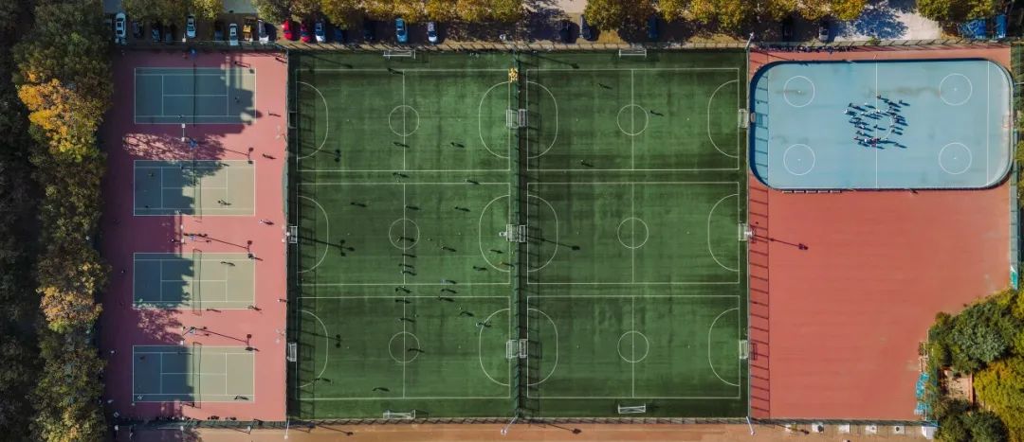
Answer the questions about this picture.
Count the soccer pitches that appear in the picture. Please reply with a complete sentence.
I count 6 soccer pitches.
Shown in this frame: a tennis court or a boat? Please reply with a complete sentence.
Looking from above, you can make out a tennis court.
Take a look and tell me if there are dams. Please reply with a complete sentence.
No, the picture doesn't show any dam.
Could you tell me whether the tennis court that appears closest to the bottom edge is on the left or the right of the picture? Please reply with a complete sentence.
The tennis court that appears closest to the bottom edge appears in the left half of the scene.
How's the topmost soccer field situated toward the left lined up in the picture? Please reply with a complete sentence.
Seen from above, the topmost soccer field situated toward the left lies from left to right.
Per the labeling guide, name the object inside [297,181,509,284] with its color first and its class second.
green soccer field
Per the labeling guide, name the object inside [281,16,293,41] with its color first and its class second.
red vehicle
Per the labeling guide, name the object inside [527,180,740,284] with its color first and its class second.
green soccer field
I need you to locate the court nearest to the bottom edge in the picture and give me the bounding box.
[134,341,255,409]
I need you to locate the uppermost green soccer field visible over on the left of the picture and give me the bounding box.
[297,68,509,171]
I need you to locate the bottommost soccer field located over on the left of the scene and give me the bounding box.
[297,295,509,400]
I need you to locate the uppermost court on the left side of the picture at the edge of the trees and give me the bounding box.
[134,61,255,129]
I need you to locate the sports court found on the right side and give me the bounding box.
[752,58,1017,192]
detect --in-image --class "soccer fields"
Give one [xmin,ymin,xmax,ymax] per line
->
[527,67,740,170]
[527,180,740,284]
[297,295,509,400]
[297,68,509,171]
[297,181,509,284]
[527,295,740,399]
